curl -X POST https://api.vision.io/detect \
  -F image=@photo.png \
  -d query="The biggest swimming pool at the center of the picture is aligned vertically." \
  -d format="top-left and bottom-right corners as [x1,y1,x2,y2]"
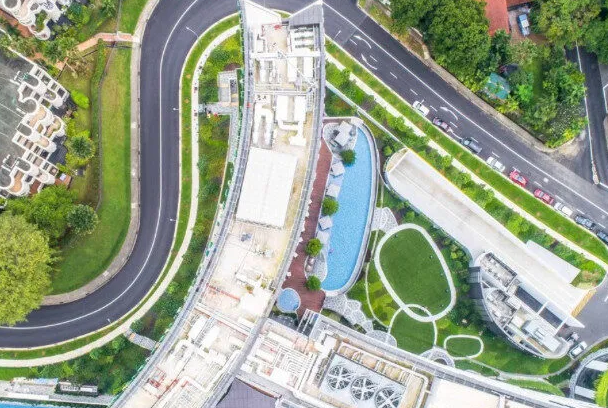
[304,111,385,303]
